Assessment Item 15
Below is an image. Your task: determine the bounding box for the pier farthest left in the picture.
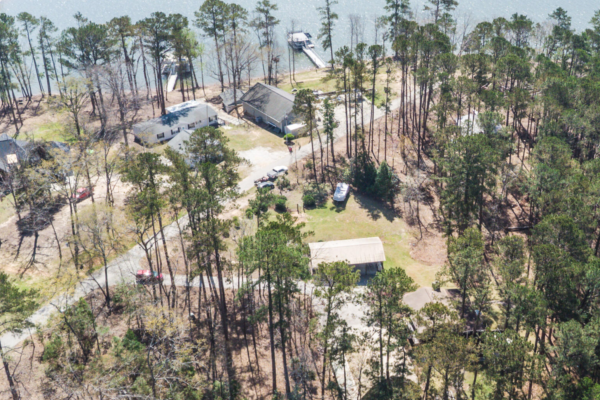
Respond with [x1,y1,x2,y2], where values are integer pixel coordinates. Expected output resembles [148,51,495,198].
[162,49,190,88]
